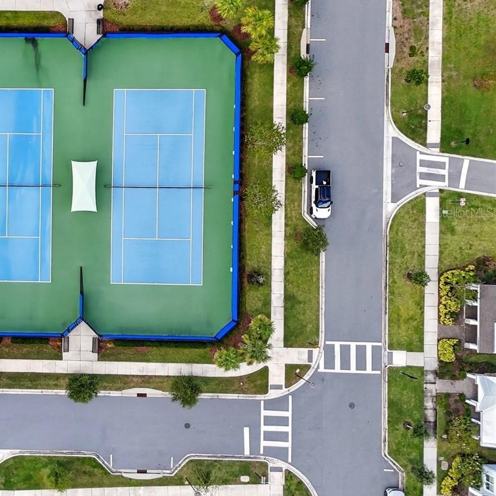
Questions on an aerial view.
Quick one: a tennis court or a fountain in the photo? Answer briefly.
tennis court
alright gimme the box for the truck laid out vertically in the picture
[311,170,333,218]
